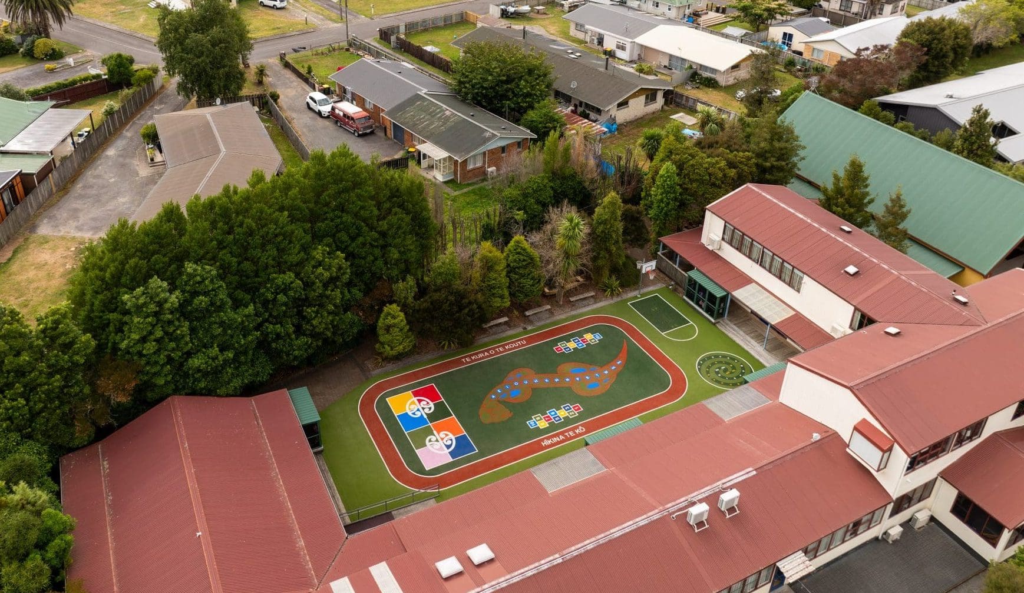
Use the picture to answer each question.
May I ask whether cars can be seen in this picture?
Yes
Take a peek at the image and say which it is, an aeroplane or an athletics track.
athletics track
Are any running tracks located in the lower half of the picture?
Yes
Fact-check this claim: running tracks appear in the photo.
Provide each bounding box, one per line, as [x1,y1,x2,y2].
[361,313,685,489]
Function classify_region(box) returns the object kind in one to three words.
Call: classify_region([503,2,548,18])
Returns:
boat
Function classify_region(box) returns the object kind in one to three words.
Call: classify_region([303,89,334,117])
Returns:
car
